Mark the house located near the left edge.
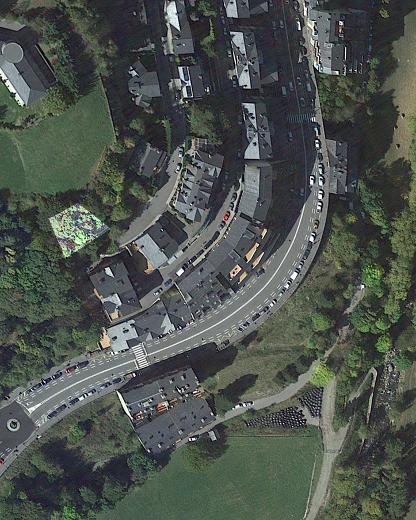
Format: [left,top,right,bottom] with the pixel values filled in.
[0,39,57,107]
